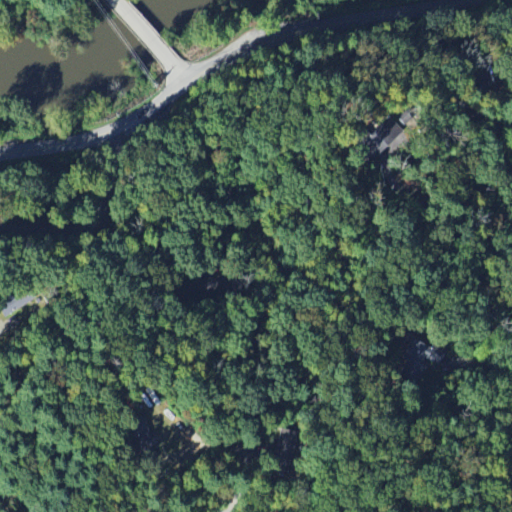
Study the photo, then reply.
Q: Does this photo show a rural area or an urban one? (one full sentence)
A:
From above, the setting appears rural.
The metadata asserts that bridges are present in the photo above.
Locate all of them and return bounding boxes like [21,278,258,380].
[106,0,184,68]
